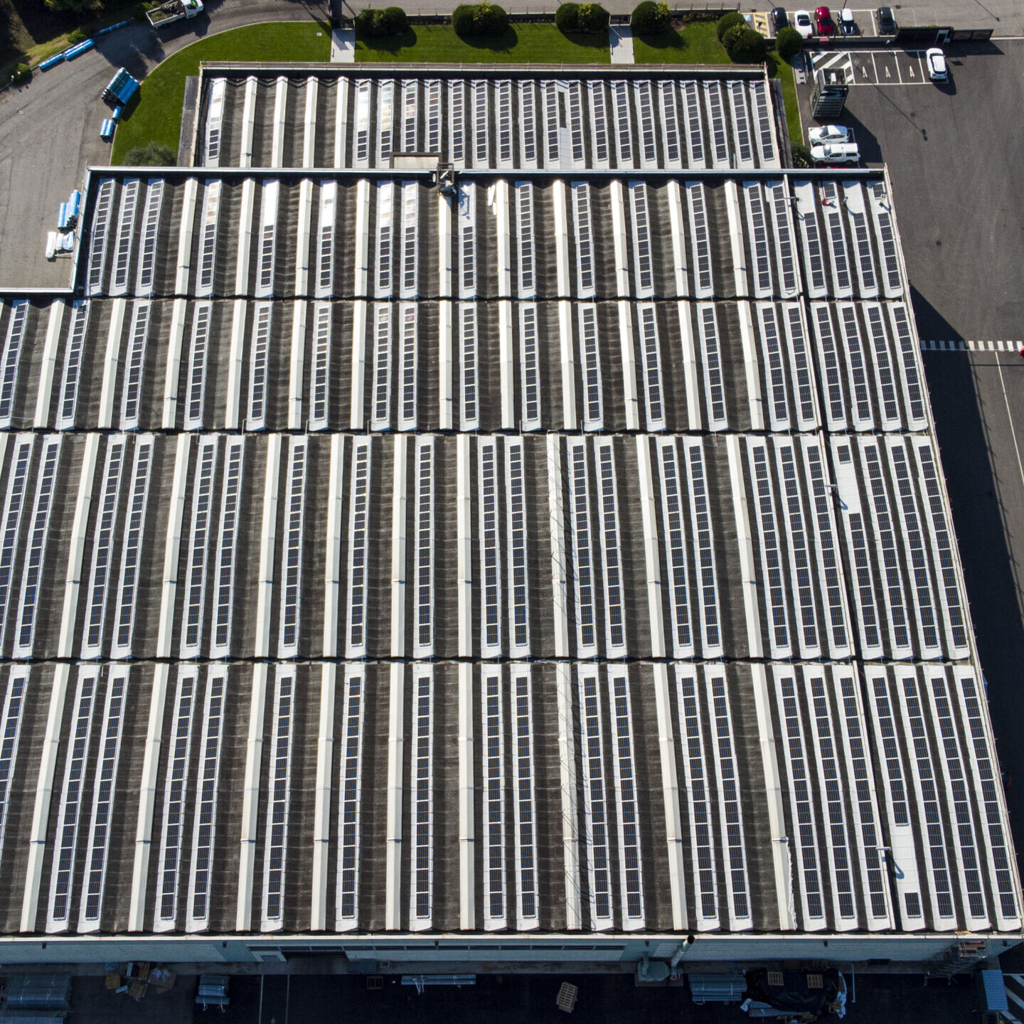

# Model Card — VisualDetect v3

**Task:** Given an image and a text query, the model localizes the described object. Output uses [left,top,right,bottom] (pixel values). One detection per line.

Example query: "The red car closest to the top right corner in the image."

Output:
[815,5,834,33]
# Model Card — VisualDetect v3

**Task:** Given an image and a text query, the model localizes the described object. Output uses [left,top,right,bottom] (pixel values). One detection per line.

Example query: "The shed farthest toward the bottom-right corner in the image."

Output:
[973,970,1008,1014]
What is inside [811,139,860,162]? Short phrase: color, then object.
white truck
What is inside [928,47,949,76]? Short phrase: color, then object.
white car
